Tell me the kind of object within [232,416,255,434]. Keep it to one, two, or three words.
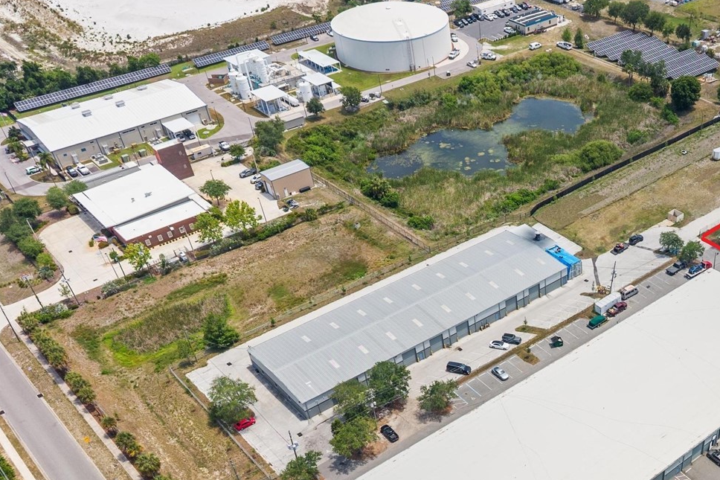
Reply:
car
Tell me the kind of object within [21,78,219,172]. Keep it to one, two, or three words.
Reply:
building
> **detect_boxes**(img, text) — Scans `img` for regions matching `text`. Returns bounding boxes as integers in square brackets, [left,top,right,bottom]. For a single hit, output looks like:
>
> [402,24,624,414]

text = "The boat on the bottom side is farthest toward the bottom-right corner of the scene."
[581,306,611,330]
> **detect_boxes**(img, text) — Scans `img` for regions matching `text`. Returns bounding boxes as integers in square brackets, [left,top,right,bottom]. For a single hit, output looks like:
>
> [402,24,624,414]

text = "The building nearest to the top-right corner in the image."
[510,12,559,36]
